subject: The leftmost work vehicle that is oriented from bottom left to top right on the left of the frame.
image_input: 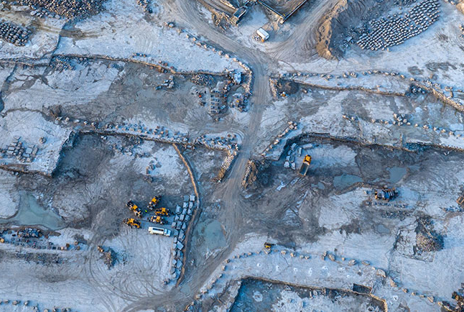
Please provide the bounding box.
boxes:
[147,191,162,210]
